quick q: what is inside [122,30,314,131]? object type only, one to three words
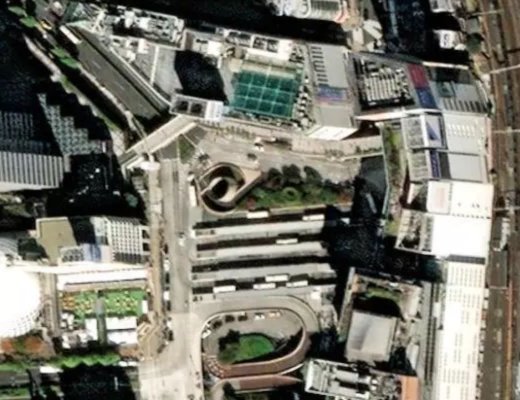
building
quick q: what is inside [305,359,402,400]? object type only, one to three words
building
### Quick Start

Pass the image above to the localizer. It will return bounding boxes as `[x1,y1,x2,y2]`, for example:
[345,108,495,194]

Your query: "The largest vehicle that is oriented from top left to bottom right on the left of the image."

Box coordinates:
[59,25,82,45]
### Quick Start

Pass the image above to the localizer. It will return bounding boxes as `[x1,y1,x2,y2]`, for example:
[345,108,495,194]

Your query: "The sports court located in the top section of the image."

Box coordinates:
[226,66,299,120]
